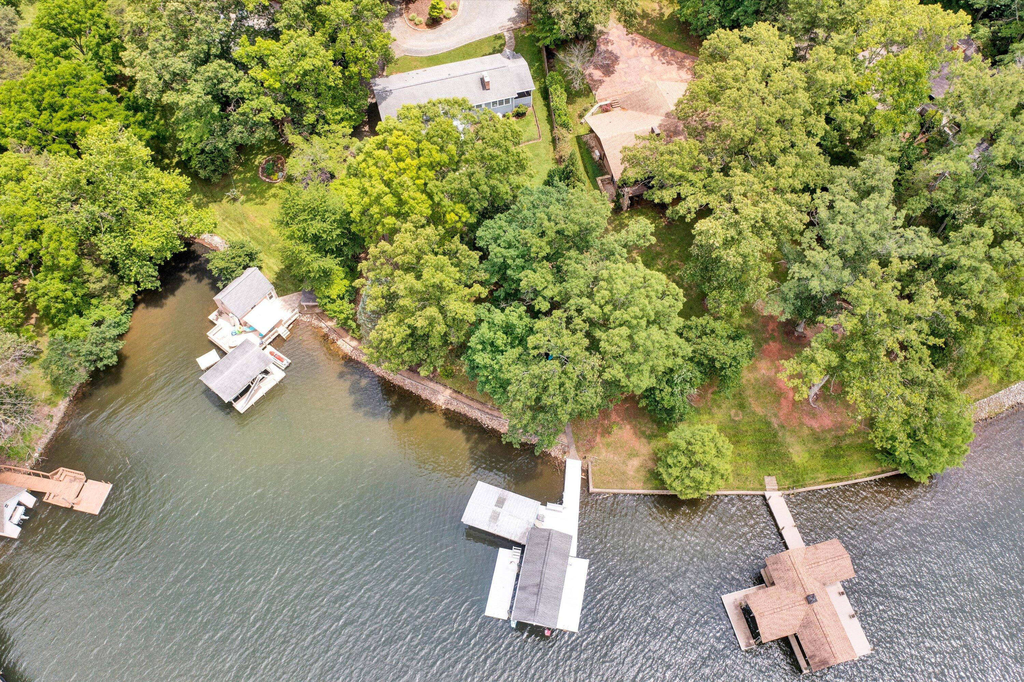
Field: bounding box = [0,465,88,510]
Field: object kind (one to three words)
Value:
pier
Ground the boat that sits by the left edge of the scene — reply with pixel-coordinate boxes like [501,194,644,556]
[8,505,33,527]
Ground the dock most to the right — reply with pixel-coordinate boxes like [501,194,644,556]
[485,458,589,633]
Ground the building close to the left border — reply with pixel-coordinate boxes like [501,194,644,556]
[0,485,40,541]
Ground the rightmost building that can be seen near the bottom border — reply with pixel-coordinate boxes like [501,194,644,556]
[720,538,873,674]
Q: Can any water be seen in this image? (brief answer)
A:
Yes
